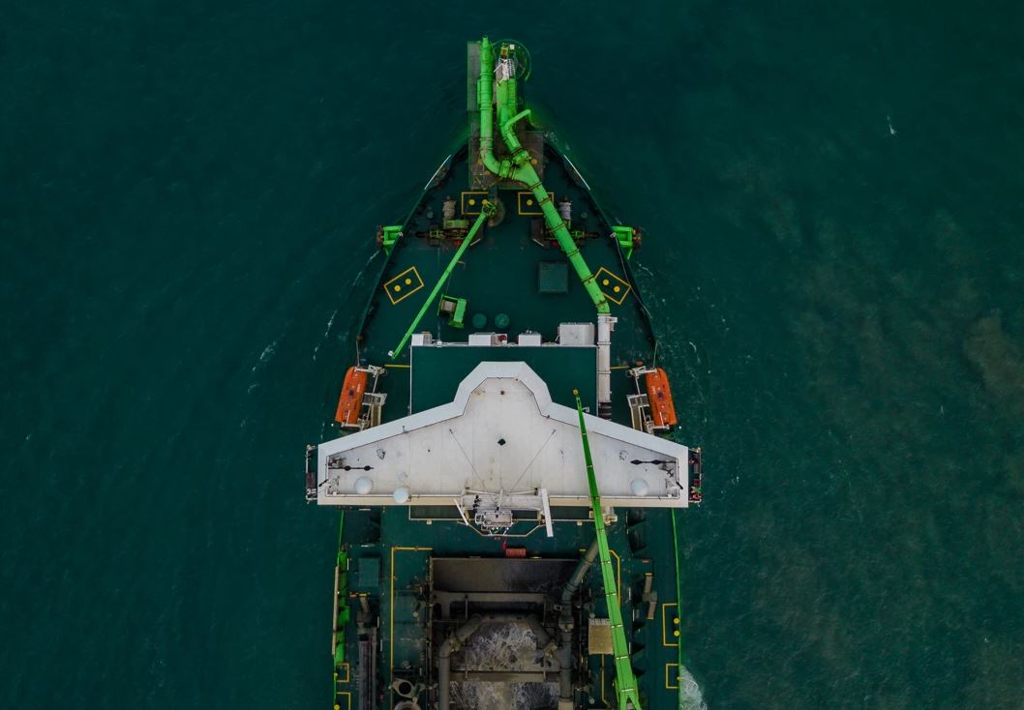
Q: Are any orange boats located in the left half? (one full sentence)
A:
Yes, an orange boat can be seen in the left half.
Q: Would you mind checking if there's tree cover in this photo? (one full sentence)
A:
No, there is no tree cover in the image.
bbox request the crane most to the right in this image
[573,389,648,710]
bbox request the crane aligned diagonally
[388,198,506,358]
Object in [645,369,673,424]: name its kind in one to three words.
boat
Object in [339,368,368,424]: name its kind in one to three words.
boat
